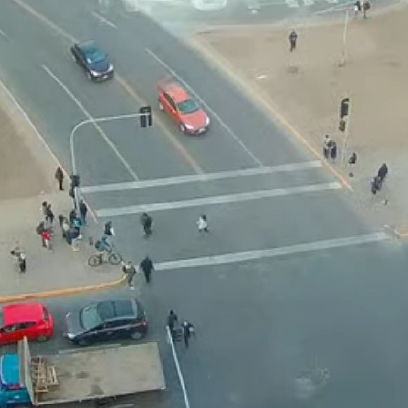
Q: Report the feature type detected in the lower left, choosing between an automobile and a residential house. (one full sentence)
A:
The feature located in the lower left is an automobile.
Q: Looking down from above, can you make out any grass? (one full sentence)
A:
No, grass can't be seen anywhere here.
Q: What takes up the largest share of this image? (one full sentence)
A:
Most of the picture is covered by paved ground.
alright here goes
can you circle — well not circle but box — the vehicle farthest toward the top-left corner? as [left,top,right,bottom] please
[72,41,111,77]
